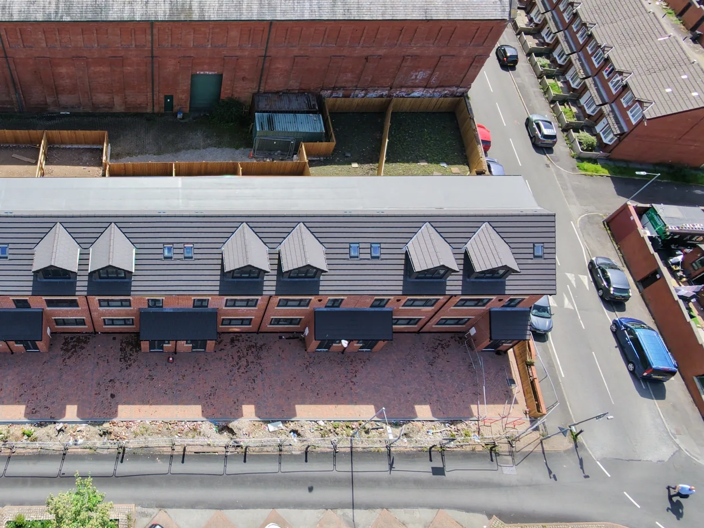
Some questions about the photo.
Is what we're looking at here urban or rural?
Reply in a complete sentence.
The area shown here is urban.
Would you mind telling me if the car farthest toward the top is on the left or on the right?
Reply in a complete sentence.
The car farthest toward the top appears in the right half of the scene.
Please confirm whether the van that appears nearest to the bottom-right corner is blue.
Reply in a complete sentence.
Yes, the van that appears nearest to the bottom-right corner is indeed blue.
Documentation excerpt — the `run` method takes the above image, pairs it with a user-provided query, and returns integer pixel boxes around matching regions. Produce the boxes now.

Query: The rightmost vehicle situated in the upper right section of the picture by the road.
[522,113,564,152]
